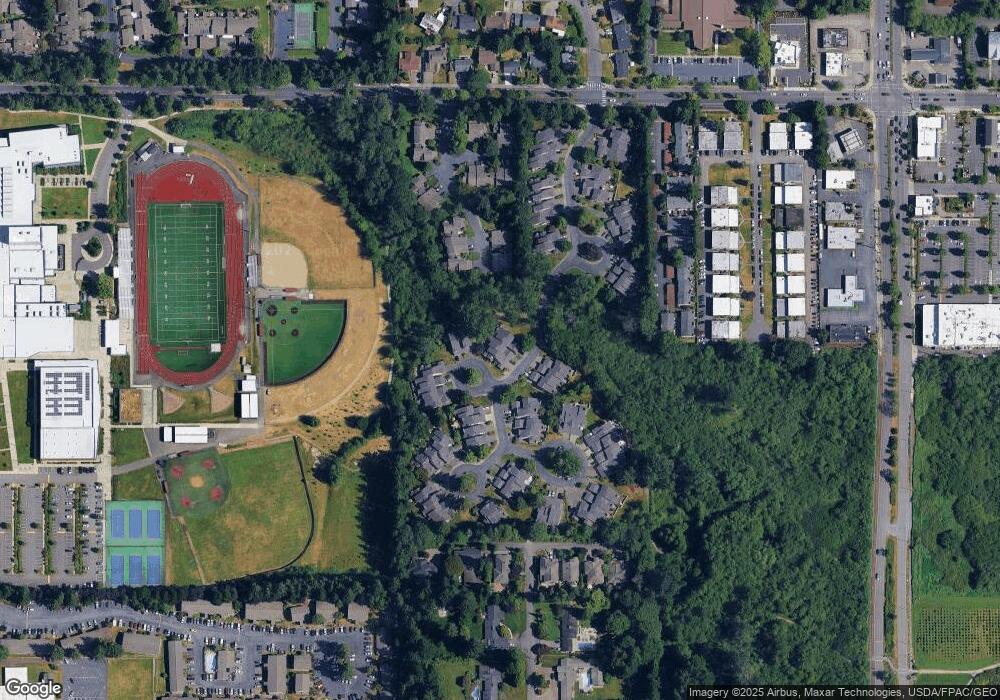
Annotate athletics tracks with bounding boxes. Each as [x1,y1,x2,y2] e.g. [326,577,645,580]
[136,161,245,386]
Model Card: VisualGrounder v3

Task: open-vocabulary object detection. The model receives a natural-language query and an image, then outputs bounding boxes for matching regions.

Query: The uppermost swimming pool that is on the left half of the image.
[204,650,217,674]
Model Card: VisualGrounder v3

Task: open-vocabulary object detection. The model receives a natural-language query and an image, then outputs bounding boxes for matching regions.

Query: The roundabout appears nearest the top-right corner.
[559,233,617,273]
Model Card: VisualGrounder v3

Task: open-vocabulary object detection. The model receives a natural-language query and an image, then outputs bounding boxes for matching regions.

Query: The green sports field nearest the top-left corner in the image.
[147,201,227,372]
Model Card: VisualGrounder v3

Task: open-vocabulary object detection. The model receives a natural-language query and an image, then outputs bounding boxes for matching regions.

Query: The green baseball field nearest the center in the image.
[264,300,347,386]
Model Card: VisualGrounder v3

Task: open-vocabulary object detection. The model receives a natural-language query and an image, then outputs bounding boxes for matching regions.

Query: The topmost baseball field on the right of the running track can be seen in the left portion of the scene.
[264,238,311,287]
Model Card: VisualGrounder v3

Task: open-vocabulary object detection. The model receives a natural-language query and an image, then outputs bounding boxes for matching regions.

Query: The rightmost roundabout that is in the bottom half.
[536,439,590,487]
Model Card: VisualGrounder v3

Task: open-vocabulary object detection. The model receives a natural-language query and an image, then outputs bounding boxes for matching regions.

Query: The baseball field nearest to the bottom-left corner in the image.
[161,440,313,584]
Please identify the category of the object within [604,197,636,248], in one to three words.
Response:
house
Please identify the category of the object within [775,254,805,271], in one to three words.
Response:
building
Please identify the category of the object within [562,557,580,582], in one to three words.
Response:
house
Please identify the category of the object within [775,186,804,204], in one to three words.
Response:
building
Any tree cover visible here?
Yes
